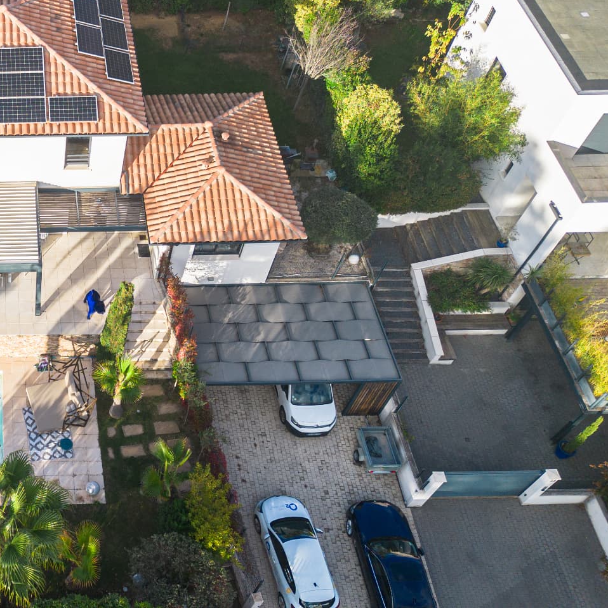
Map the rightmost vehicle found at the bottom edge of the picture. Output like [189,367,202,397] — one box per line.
[351,493,452,608]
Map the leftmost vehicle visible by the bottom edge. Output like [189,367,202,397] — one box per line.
[250,491,346,608]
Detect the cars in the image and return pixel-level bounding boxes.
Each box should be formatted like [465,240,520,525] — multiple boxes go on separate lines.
[277,384,351,439]
[351,493,452,608]
[250,491,346,608]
